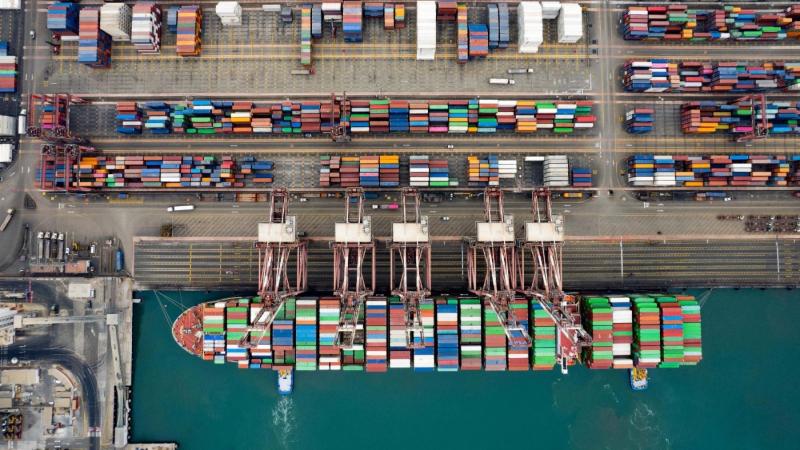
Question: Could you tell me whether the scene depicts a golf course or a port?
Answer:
port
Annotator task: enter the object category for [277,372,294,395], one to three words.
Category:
boat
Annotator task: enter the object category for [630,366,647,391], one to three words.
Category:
boat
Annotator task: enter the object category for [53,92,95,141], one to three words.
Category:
container crane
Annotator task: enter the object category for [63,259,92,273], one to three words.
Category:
building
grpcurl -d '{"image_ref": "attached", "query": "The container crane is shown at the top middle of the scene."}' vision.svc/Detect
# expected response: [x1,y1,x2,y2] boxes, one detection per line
[330,92,353,141]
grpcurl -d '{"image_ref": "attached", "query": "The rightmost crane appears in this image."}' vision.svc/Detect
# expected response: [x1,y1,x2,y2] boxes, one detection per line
[724,92,767,141]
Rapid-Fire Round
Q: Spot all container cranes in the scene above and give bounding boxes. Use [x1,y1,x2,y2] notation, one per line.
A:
[53,92,95,141]
[64,145,105,191]
[26,92,70,141]
[330,92,353,141]
[388,184,434,348]
[505,184,593,348]
[40,145,82,191]
[724,92,767,141]
[330,184,380,348]
[234,184,315,348]
[462,184,531,348]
